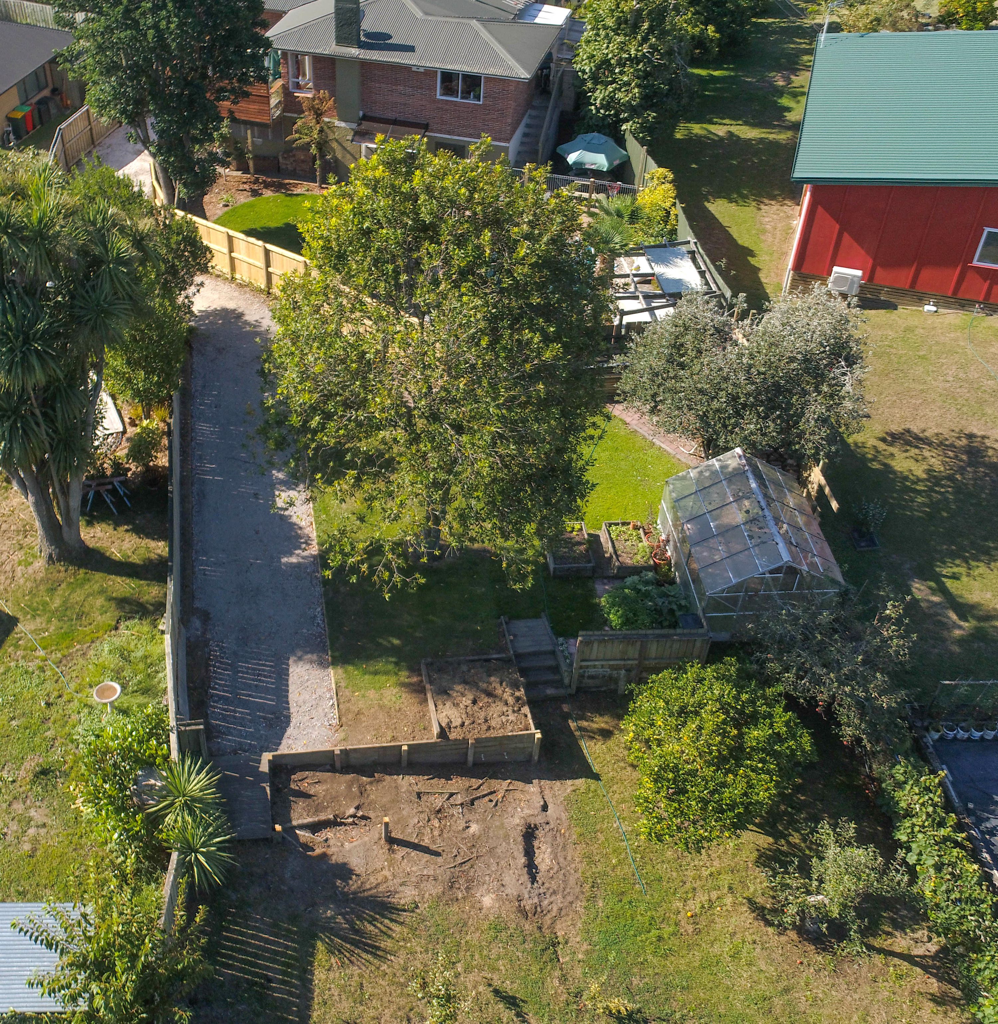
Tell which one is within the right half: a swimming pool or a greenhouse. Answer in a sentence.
The one visible within the right half is a greenhouse.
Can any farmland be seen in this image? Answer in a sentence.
No, no farmland is visible.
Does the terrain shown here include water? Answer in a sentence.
No, there's no water in this view.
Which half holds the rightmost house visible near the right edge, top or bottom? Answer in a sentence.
You can find the rightmost house visible near the right edge in the top half.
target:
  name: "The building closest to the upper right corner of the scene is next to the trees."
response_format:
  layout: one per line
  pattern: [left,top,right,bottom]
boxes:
[783,29,998,326]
